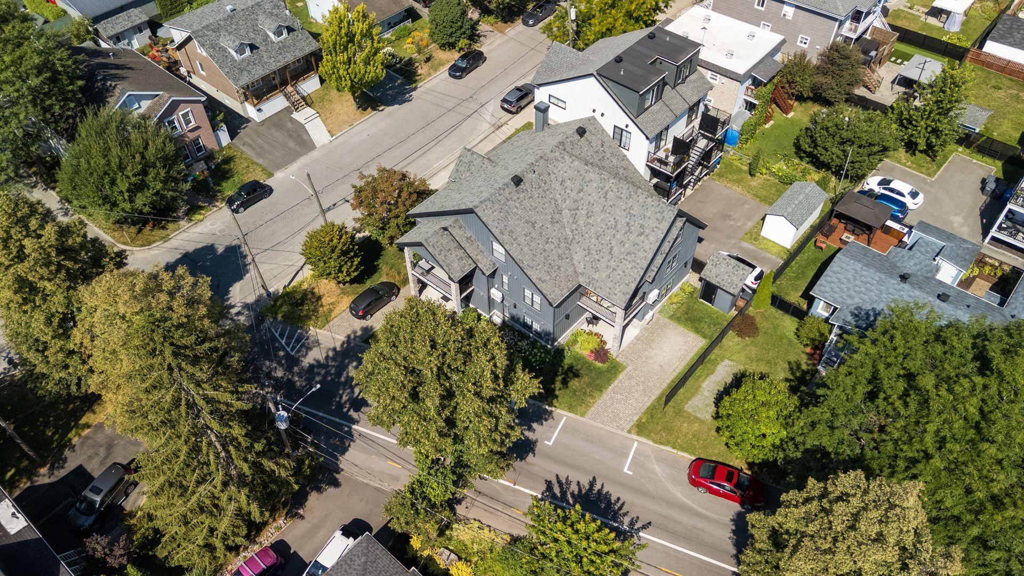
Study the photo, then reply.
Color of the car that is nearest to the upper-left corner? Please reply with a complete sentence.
The car that is nearest to the upper-left corner looks black in the image.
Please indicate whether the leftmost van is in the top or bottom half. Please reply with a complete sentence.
Seen from above, the leftmost van lies in the bottom half of the view.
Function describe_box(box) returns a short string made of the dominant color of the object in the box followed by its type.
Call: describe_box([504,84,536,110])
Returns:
gray car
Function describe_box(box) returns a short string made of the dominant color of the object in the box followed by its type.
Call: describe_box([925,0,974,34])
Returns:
white gazebo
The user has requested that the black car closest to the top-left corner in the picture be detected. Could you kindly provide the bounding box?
[224,176,270,211]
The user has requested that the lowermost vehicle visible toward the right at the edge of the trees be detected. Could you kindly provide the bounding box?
[690,460,768,510]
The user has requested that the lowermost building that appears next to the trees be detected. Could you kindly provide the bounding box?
[324,532,426,576]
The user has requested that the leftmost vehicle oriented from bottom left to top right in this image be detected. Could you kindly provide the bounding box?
[67,464,142,532]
